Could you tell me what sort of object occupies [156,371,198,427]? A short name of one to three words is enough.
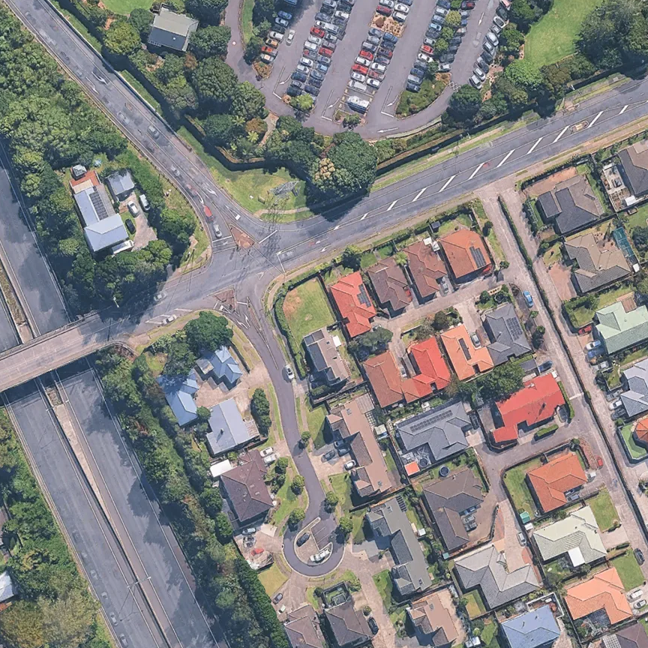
house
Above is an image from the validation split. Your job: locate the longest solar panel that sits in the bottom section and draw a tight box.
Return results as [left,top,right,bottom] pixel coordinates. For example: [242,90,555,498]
[410,410,452,432]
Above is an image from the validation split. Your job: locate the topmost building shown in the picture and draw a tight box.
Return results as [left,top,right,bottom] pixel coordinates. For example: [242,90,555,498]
[148,4,199,53]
